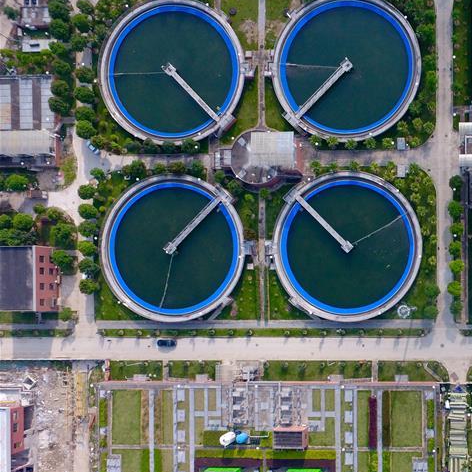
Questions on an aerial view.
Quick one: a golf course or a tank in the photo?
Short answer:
tank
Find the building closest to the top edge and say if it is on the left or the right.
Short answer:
left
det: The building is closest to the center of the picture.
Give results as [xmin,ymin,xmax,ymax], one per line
[214,131,303,192]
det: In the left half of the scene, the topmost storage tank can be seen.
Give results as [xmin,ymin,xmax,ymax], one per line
[98,0,256,145]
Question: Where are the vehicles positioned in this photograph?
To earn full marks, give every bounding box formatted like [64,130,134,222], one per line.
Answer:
[84,139,102,156]
[158,338,177,346]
